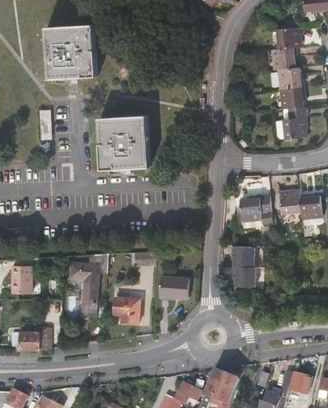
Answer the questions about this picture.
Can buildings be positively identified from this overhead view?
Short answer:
Yes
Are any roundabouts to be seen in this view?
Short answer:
Yes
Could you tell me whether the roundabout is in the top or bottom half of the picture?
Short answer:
bottom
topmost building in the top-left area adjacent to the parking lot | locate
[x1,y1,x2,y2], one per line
[41,26,98,82]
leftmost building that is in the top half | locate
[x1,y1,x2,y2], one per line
[39,109,52,140]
